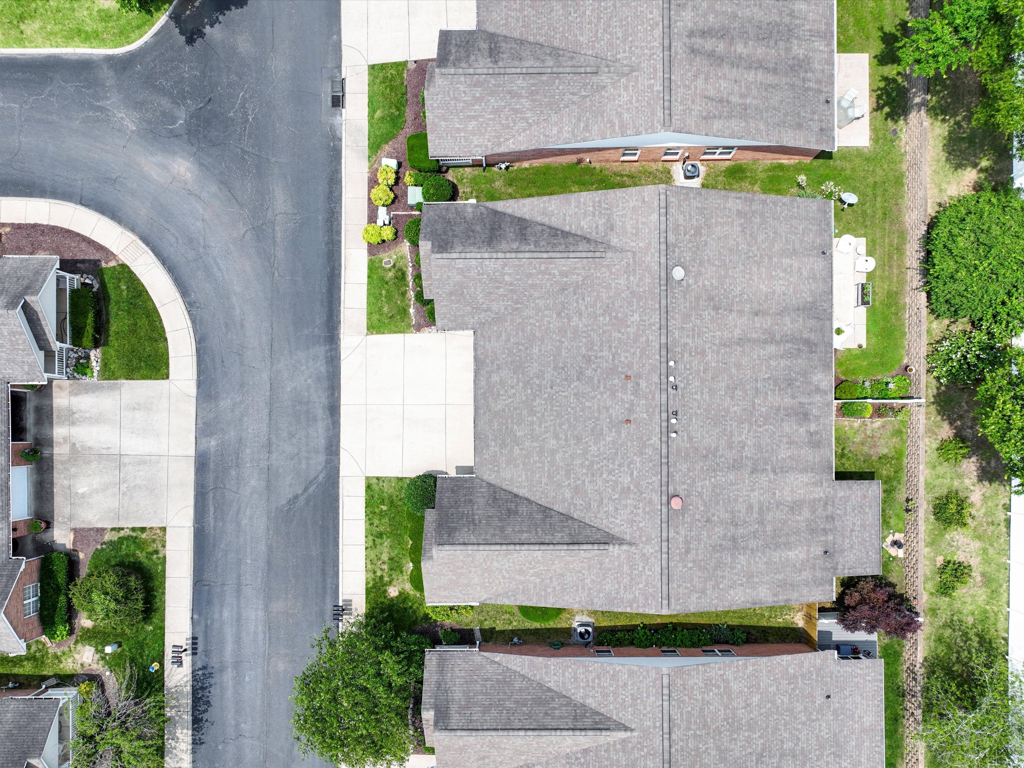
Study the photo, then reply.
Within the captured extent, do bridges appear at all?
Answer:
No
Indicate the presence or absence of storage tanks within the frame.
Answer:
No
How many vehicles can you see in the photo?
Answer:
none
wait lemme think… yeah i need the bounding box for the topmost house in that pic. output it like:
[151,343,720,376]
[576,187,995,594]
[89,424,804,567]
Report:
[423,0,838,175]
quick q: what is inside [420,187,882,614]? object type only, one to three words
house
